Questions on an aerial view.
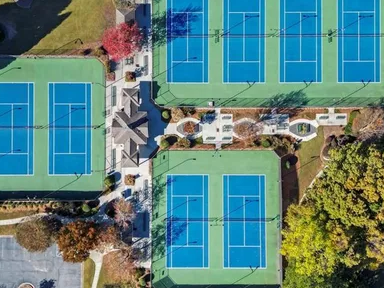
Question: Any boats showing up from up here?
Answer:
No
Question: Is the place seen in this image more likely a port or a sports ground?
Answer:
sports ground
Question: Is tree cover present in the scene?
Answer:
Yes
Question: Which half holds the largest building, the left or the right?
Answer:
left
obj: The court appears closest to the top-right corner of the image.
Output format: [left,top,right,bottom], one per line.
[338,0,381,83]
